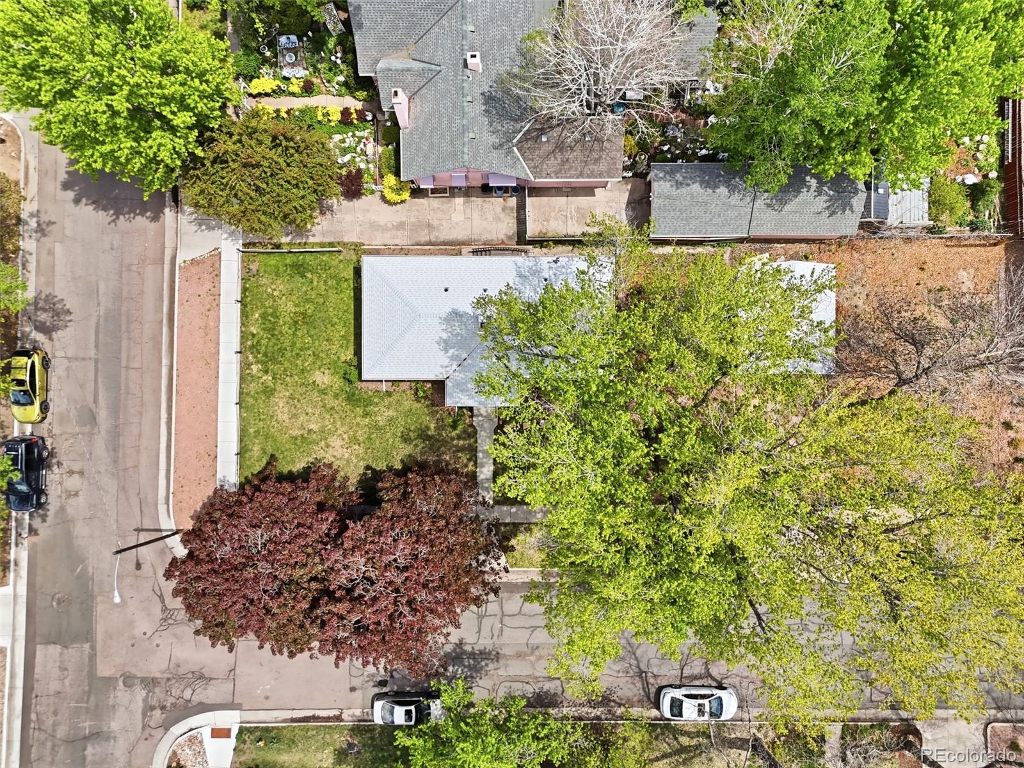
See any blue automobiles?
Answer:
No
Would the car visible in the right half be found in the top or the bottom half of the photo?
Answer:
bottom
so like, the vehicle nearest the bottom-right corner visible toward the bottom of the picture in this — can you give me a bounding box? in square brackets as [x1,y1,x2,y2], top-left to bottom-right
[659,684,739,726]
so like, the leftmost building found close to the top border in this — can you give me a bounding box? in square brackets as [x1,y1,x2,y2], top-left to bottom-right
[351,0,624,197]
